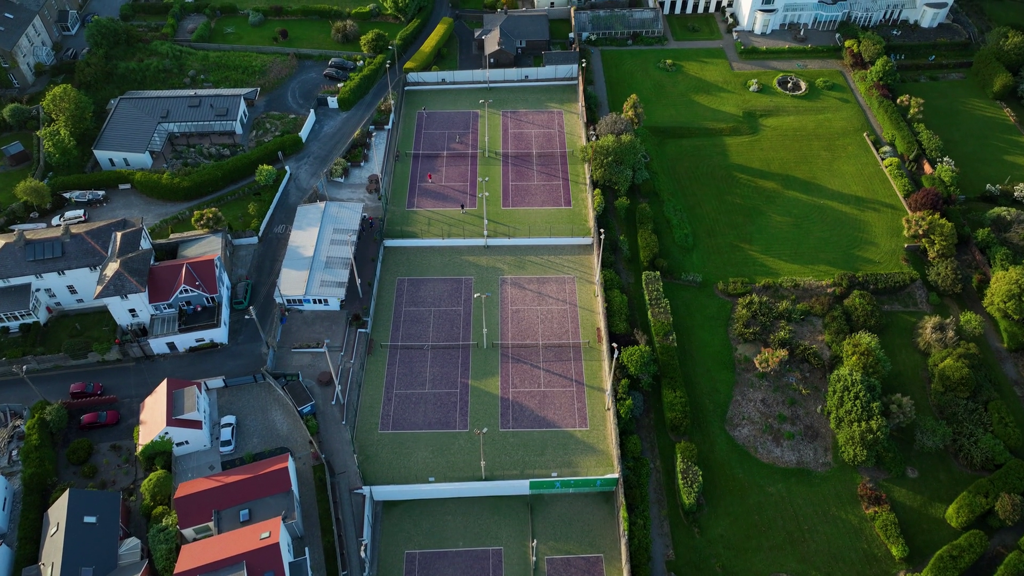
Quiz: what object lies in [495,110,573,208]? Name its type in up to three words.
tennis court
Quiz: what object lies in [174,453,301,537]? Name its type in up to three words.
house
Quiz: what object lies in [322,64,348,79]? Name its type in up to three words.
car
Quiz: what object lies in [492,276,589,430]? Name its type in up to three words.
tennis court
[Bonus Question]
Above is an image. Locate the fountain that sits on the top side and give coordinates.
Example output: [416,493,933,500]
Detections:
[774,71,808,96]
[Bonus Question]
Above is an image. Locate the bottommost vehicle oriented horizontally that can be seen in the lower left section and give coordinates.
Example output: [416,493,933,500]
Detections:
[77,409,117,429]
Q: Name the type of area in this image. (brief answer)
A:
residential area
